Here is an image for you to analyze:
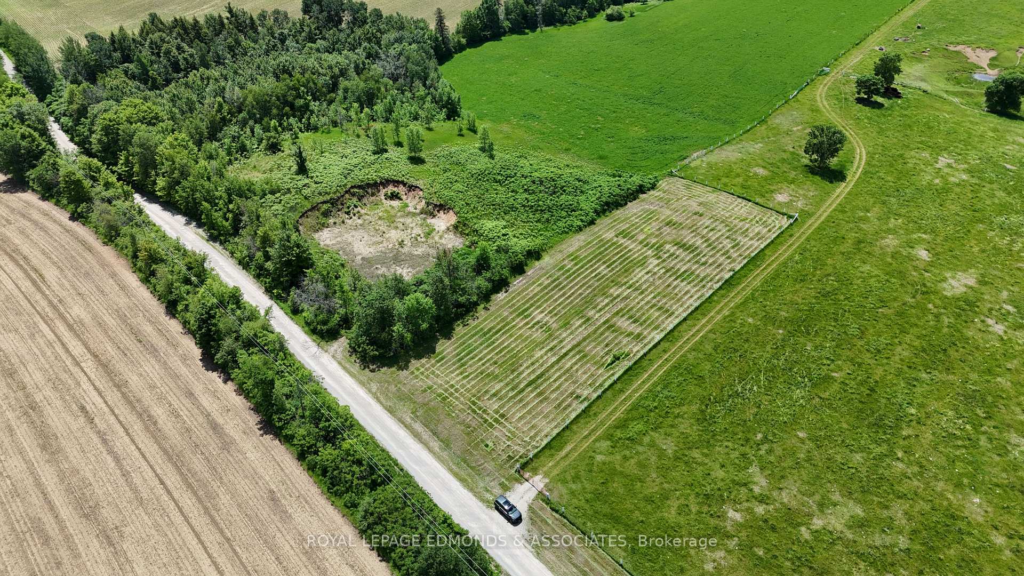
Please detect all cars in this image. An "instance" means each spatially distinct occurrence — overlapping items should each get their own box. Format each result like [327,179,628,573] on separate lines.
[492,497,520,526]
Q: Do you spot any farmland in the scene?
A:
Yes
